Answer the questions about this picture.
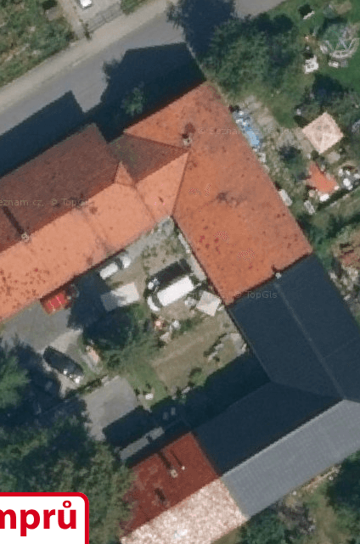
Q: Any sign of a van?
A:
Yes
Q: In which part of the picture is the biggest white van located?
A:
center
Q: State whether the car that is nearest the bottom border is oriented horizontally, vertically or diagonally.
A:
diagonally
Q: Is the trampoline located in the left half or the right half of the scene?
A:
right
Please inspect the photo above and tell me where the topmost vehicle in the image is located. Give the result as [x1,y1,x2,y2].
[97,251,135,282]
